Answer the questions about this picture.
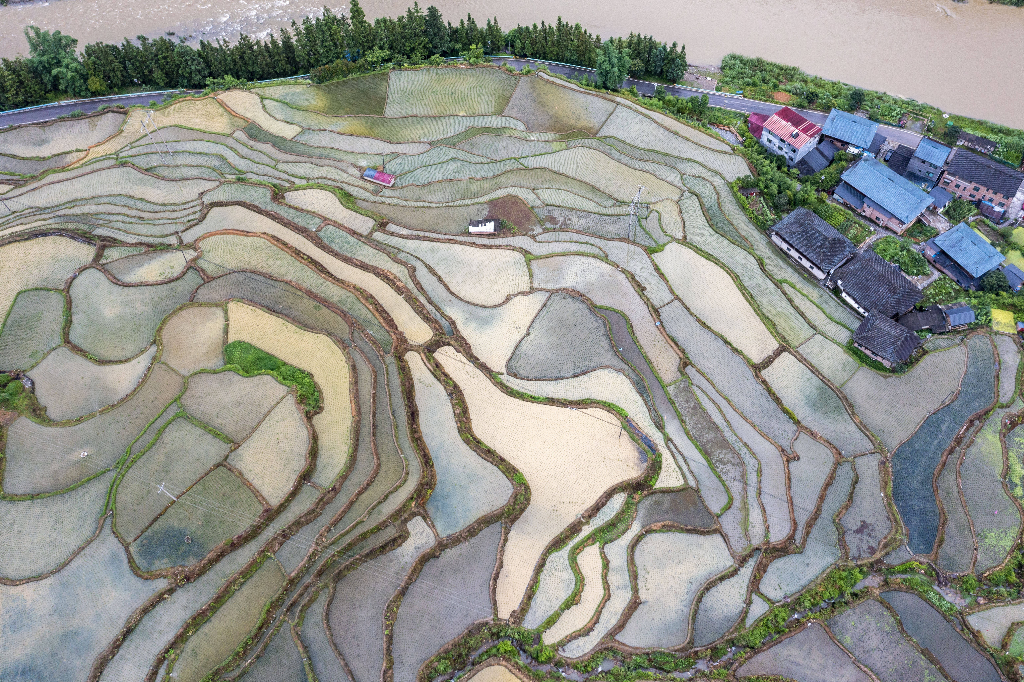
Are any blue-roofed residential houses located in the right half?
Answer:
Yes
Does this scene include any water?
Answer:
Yes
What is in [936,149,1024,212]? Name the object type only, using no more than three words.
house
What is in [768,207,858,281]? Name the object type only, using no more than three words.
house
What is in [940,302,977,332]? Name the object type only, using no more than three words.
shed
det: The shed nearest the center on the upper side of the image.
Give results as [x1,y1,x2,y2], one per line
[469,218,500,238]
